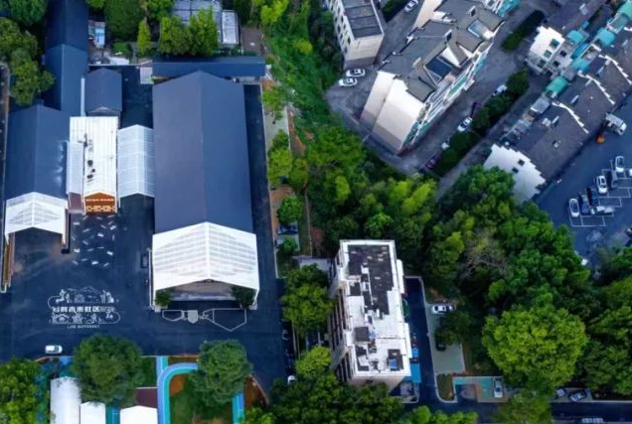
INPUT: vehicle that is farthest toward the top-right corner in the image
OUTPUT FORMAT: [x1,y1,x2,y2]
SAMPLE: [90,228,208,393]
[605,109,628,131]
